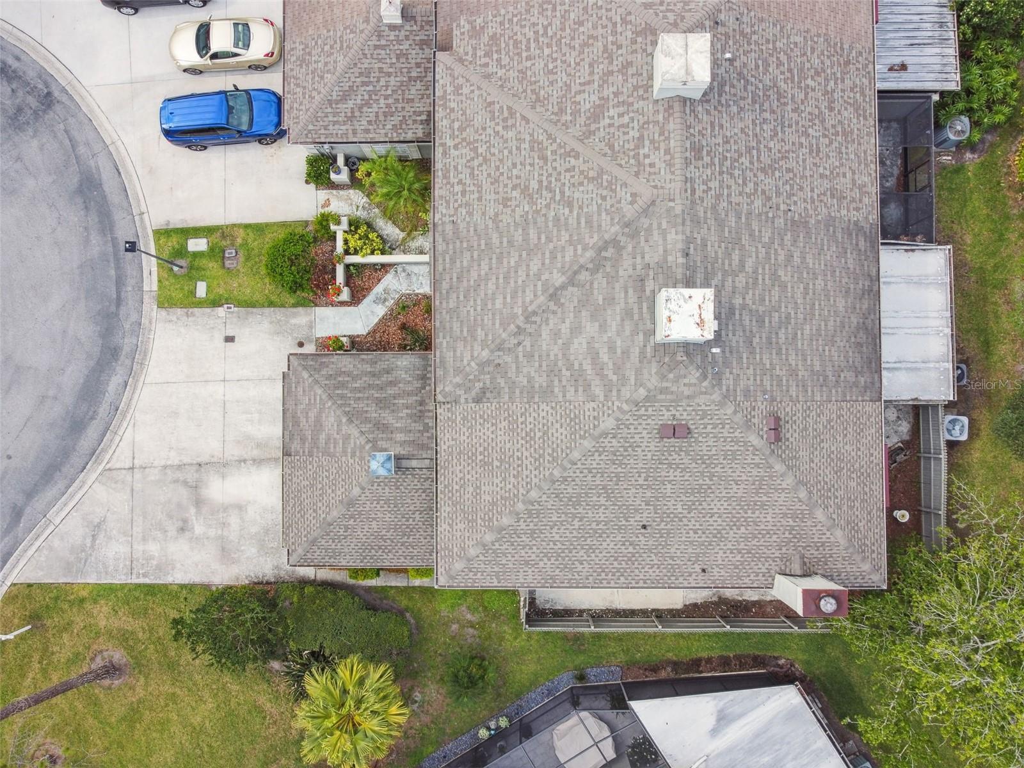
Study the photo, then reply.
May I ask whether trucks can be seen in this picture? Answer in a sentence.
No, I find no truck anywhere in the image.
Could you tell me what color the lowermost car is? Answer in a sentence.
From above, the lowermost car appears blue.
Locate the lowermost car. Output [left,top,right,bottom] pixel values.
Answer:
[158,76,292,151]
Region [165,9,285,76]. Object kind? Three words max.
car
